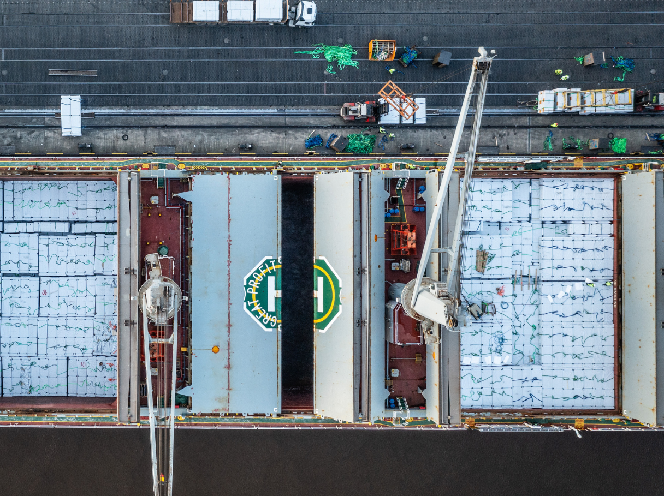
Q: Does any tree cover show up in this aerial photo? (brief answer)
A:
No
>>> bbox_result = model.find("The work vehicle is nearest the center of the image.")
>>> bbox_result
[337,102,381,123]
